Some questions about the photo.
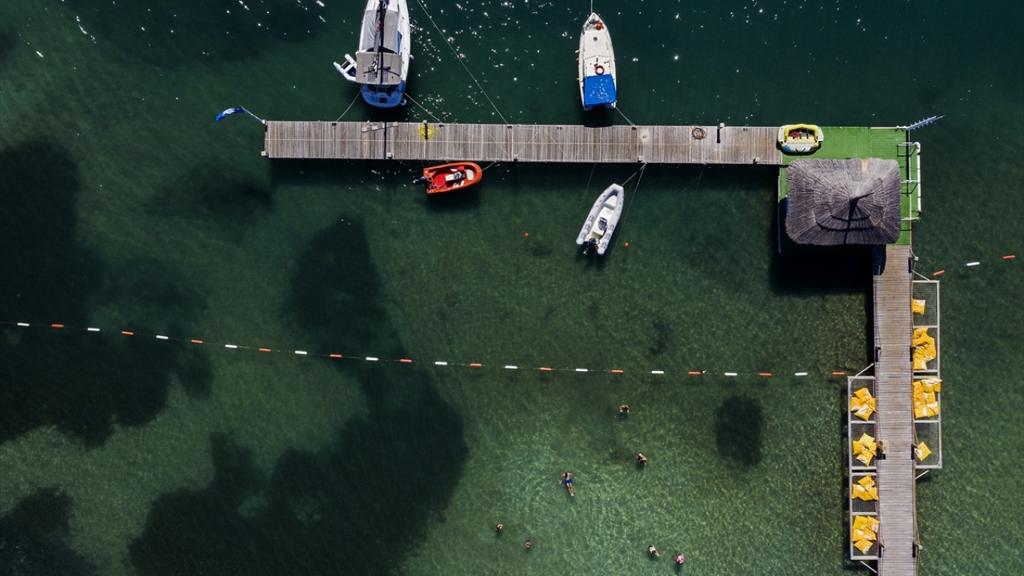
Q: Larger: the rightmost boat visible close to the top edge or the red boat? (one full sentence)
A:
The red boat is smaller than the rightmost boat visible close to the top edge.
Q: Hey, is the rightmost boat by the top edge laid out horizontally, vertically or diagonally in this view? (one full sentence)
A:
What the image shows is the rightmost boat by the top edge lying vertically.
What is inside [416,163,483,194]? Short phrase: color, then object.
red boat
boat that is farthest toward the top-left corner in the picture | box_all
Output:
[331,53,358,85]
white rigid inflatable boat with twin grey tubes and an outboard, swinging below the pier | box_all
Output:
[575,186,621,261]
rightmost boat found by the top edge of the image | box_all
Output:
[576,9,617,120]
